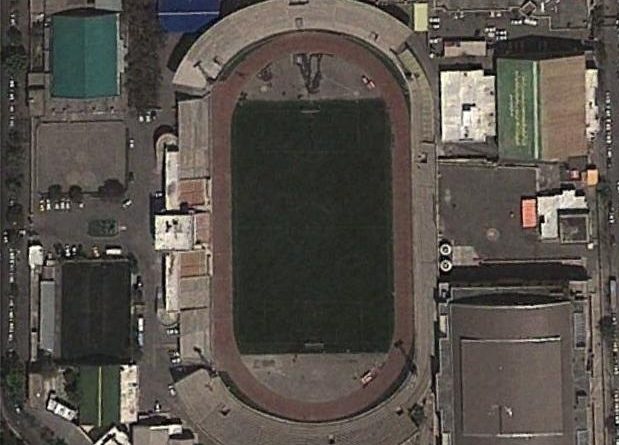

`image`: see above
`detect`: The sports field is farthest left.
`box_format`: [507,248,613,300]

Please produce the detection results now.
[54,257,134,364]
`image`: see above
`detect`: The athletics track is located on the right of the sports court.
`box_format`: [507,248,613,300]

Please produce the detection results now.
[212,33,413,423]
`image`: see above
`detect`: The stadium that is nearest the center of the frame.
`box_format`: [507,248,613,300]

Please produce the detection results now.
[173,0,438,445]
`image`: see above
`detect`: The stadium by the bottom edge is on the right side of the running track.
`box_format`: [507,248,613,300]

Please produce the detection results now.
[450,279,574,445]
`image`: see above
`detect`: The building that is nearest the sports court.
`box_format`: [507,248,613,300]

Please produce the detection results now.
[29,88,45,116]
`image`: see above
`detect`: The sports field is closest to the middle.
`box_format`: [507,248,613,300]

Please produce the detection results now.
[232,100,392,353]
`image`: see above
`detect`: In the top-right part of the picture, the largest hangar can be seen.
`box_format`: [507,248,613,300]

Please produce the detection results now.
[497,51,587,163]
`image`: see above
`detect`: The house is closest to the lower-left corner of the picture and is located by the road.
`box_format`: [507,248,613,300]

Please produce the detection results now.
[47,393,77,421]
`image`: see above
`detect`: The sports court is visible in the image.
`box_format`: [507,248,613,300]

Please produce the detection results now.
[36,120,129,194]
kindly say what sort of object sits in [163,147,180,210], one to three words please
building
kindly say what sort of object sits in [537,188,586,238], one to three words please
house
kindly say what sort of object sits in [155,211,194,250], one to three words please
building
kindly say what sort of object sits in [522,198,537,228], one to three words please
shed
